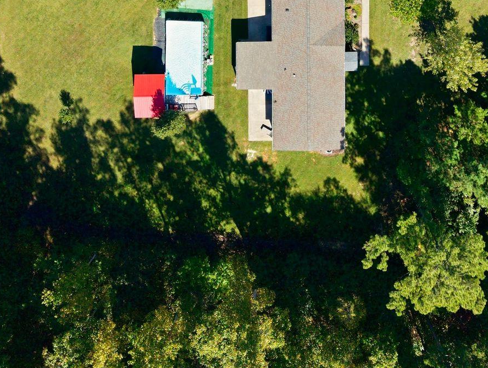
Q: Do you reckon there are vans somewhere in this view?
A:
No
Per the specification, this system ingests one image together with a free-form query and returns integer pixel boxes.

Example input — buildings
[235,0,357,155]
[133,71,167,119]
